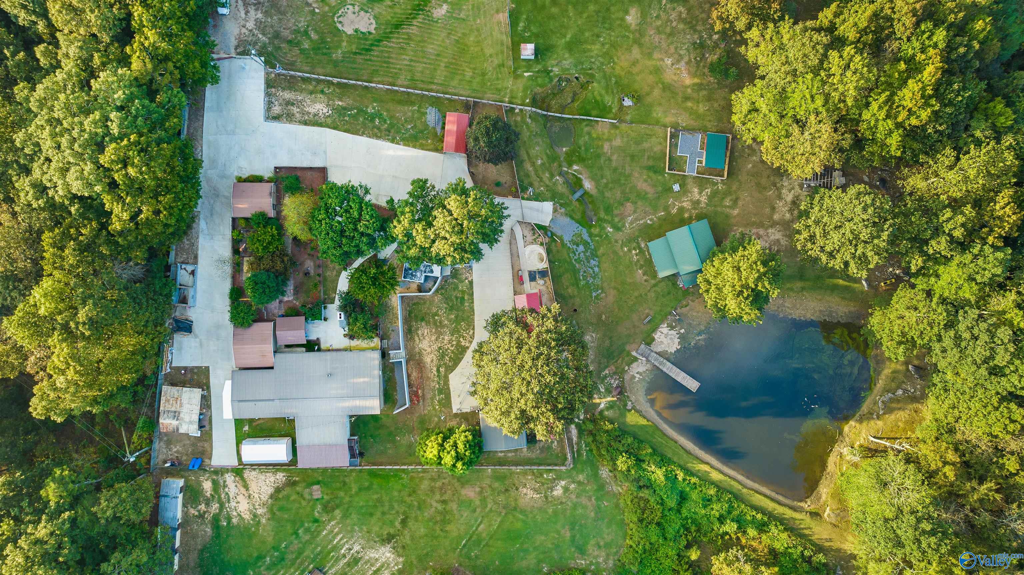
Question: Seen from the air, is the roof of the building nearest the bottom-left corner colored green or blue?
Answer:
blue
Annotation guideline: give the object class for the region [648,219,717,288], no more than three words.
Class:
building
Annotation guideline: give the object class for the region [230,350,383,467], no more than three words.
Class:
house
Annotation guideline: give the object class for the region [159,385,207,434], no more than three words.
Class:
shed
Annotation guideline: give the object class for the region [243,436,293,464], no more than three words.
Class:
shed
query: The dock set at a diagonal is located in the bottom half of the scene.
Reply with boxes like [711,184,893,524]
[636,344,700,392]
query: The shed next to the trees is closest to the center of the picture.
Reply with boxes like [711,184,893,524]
[515,292,541,318]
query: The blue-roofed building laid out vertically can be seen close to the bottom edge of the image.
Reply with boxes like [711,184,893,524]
[153,477,184,565]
